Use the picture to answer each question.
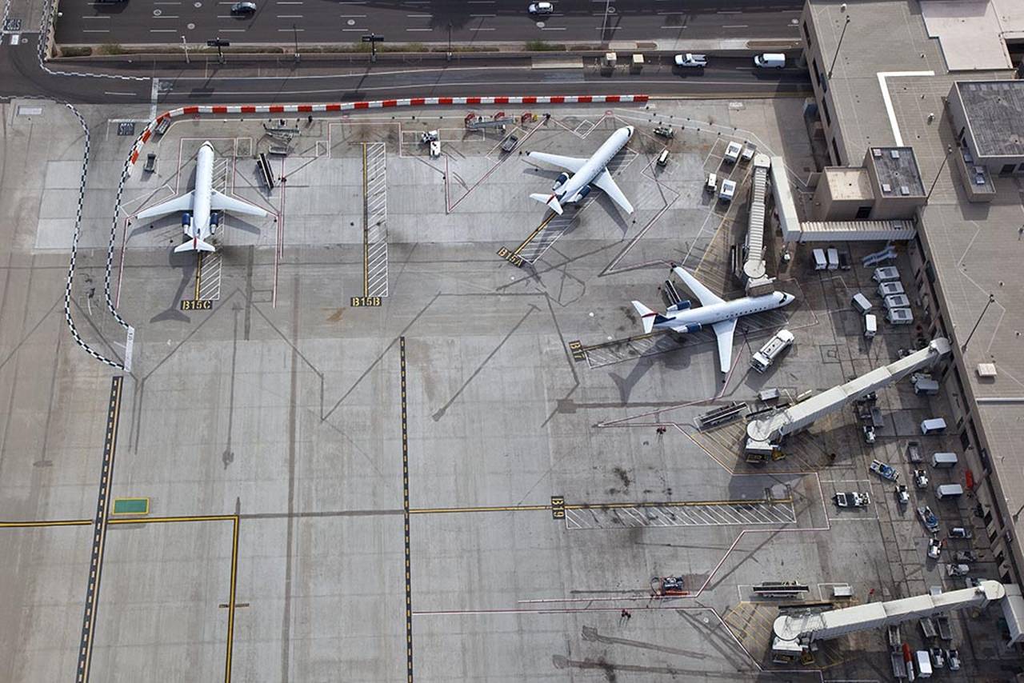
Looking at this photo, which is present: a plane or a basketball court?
plane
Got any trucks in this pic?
Yes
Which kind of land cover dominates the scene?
paved ground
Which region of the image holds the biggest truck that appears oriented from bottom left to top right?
right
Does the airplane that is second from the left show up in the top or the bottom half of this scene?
top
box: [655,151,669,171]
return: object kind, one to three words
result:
work vehicle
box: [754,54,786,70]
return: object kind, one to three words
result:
vehicle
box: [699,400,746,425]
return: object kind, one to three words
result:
work vehicle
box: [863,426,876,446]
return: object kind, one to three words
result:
vehicle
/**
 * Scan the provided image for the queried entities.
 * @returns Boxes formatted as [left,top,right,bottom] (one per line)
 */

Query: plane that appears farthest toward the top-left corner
[133,142,268,254]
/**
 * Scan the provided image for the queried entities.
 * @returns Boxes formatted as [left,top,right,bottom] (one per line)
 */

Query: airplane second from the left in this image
[528,127,640,217]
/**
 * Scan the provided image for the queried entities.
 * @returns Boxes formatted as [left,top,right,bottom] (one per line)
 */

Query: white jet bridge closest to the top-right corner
[729,156,773,300]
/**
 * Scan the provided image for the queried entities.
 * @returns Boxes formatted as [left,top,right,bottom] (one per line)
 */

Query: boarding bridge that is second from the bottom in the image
[742,342,949,464]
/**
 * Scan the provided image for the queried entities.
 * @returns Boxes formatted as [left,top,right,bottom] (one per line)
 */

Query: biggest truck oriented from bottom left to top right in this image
[748,334,793,375]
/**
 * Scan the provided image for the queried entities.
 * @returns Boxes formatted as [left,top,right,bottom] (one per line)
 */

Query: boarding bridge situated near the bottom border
[768,578,1007,665]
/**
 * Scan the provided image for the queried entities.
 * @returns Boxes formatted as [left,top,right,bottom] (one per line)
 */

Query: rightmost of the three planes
[632,265,794,374]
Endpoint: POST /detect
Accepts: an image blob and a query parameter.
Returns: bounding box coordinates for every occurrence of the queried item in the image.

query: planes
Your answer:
[528,127,640,217]
[632,265,794,374]
[133,142,268,254]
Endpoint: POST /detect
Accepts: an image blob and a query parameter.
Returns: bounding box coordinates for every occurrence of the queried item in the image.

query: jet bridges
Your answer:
[729,156,773,300]
[768,578,1007,665]
[742,342,949,464]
